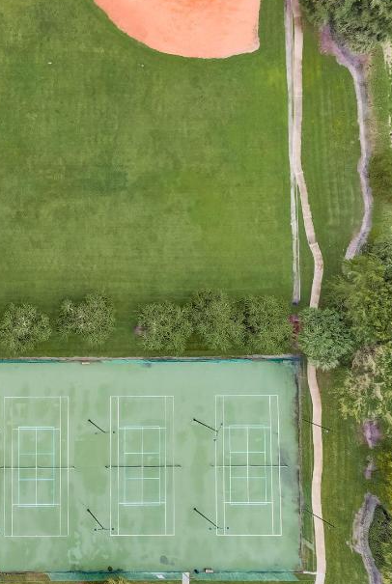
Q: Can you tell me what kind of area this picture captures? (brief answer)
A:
sports ground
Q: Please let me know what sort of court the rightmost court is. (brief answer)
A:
tennis court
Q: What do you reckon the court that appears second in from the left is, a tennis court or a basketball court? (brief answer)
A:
tennis court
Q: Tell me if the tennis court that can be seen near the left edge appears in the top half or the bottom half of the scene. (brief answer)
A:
bottom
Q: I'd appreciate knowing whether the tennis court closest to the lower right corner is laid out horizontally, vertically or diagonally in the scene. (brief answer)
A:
vertically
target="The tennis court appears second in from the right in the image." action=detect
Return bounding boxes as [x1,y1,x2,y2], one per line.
[104,383,182,547]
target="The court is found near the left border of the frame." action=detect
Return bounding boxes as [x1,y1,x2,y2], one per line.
[0,384,76,548]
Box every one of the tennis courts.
[104,383,182,547]
[208,383,289,547]
[0,384,76,548]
